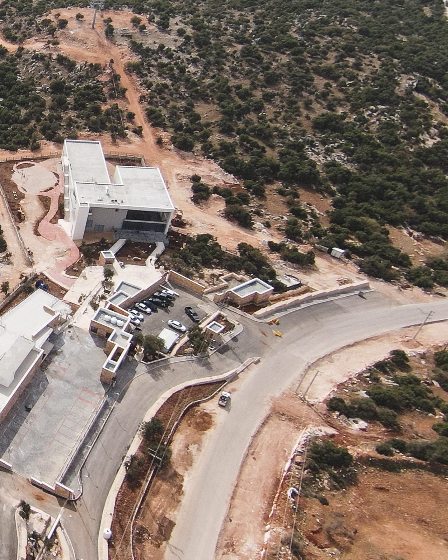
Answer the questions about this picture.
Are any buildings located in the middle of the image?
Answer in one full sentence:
Yes, a building can be seen in the middle of the image.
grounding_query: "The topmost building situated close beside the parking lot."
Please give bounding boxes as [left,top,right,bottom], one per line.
[58,139,175,239]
